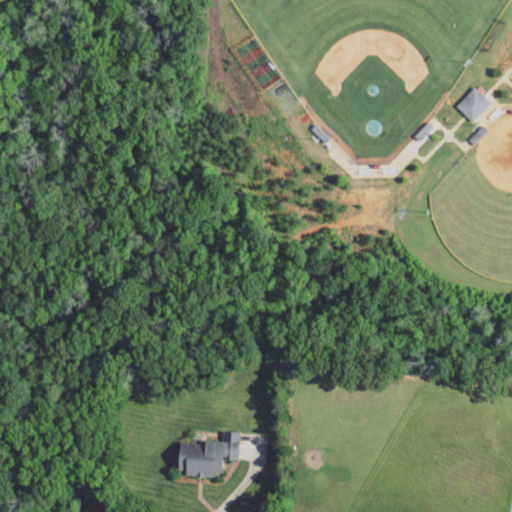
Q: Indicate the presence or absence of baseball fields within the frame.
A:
Yes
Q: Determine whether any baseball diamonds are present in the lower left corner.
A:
No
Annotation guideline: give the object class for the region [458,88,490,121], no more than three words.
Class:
building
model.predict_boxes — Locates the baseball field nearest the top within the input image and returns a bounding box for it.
[232,0,510,166]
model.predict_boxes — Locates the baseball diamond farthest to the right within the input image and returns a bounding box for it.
[430,112,512,282]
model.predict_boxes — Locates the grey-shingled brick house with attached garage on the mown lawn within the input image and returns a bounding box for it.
[179,432,241,480]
